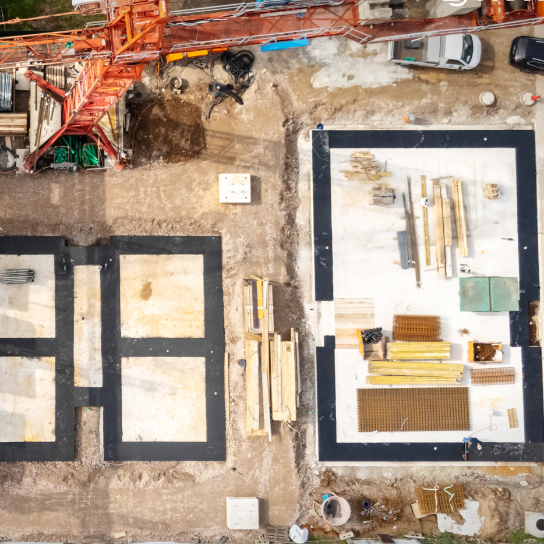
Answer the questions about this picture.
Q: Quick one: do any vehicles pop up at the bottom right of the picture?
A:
No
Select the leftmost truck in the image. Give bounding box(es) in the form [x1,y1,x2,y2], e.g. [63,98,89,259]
[386,33,482,75]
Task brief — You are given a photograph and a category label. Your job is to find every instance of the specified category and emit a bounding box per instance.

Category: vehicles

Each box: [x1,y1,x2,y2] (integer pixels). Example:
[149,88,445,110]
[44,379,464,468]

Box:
[386,33,482,75]
[509,34,544,76]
